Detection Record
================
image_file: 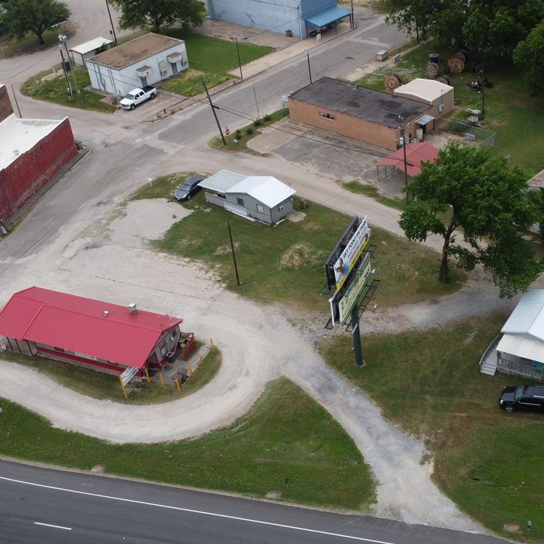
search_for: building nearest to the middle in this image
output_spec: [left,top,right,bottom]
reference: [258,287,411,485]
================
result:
[198,170,295,223]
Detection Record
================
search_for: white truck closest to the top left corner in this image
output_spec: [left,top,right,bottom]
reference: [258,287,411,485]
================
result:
[119,86,159,109]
